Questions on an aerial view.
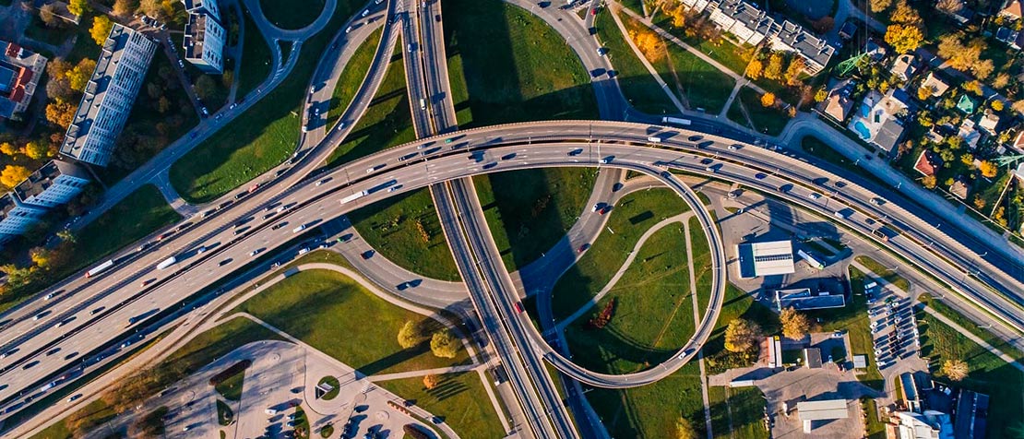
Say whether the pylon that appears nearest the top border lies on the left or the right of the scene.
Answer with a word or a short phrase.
right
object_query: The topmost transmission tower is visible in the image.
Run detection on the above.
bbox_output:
[832,55,872,77]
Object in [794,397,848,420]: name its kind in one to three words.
shed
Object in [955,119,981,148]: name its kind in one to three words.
house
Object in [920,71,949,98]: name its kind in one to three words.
house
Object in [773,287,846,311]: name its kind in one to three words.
building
